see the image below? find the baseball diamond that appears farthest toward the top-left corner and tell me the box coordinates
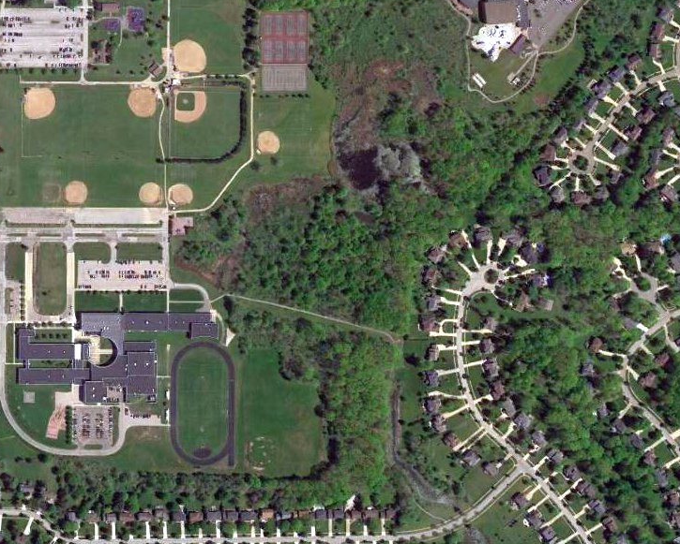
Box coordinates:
[22,86,55,119]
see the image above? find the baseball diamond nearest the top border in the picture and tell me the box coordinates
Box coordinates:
[171,39,206,73]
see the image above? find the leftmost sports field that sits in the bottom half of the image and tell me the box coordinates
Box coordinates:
[178,349,227,459]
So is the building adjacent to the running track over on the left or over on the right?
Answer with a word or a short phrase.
left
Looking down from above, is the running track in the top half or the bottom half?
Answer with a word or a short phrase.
bottom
